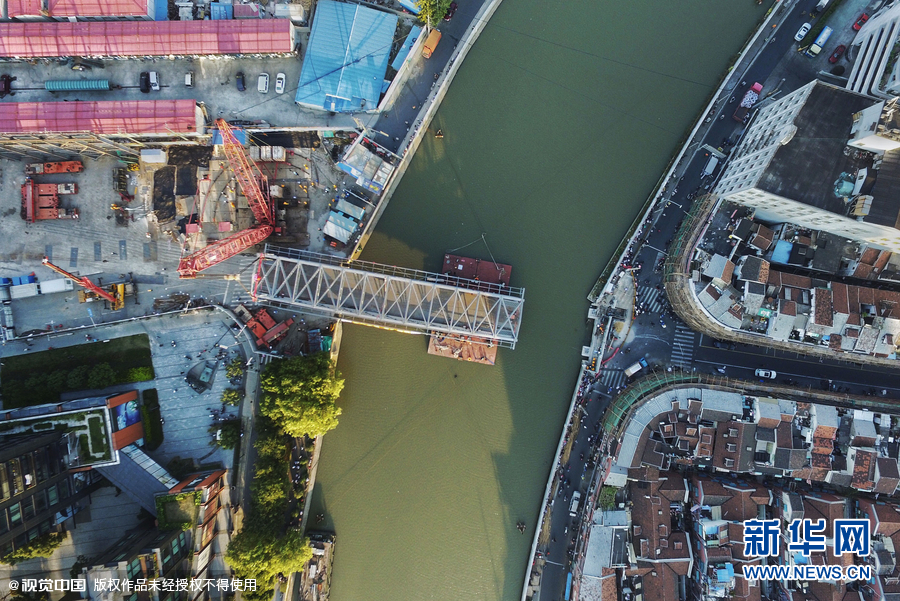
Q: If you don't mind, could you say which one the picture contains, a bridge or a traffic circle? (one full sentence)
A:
This aerial view contains a bridge.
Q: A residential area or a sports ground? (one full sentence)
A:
The picture captures a residential area.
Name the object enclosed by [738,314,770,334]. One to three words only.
house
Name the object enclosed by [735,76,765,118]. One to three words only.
truck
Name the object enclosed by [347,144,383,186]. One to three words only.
building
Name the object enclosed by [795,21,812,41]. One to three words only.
car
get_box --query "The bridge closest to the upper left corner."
[256,248,527,348]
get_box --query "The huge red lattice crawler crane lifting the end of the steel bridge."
[171,114,294,281]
